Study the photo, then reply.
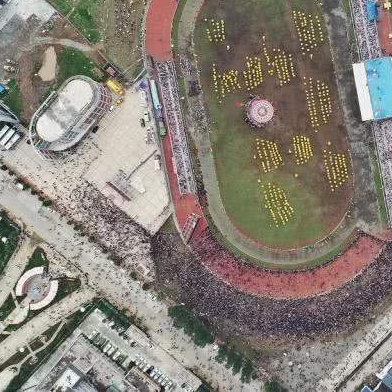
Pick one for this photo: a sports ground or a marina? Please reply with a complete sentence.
The picture captures a sports ground.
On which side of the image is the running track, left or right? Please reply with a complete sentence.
The running track sits on the right side.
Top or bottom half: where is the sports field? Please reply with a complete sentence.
The sports field sits in the top half of the picture.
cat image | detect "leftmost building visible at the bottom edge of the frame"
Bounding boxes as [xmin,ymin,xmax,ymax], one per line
[25,328,132,392]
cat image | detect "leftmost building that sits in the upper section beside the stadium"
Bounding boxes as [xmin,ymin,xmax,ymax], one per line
[30,73,114,155]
